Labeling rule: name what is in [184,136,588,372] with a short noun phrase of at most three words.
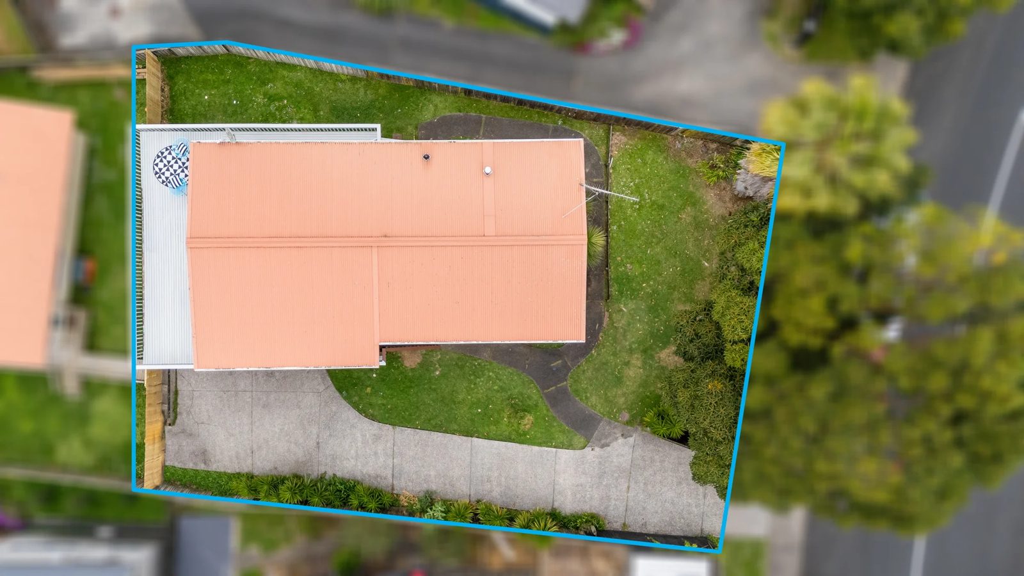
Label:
house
